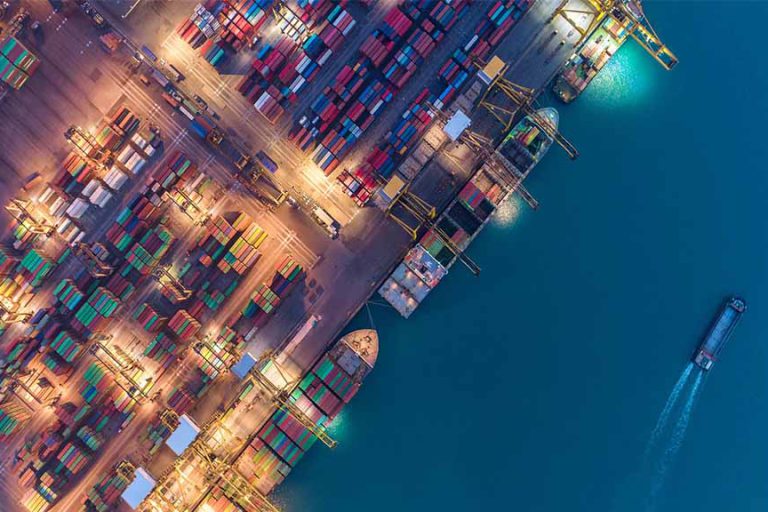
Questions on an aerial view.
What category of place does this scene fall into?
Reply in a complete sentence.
The area seen from above is a port.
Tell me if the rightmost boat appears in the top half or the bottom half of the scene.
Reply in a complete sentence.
The rightmost boat sits in the bottom half of the picture.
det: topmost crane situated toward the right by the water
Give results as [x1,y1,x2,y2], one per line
[545,0,679,71]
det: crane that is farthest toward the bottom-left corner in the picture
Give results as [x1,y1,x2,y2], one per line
[7,373,64,415]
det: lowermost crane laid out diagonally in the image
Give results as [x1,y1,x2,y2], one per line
[158,404,290,512]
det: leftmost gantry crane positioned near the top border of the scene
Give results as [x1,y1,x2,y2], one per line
[217,1,263,50]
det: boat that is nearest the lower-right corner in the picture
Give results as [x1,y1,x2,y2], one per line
[694,298,743,372]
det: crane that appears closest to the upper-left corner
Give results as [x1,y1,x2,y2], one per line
[68,129,122,171]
